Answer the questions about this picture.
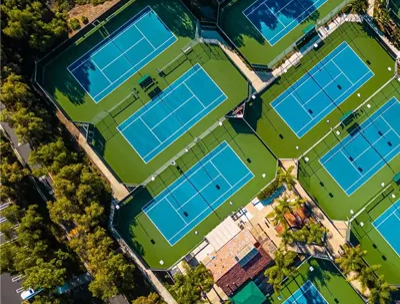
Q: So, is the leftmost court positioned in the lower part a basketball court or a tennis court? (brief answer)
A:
tennis court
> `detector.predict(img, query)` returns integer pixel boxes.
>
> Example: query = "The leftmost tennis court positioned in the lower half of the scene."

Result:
[116,116,277,270]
